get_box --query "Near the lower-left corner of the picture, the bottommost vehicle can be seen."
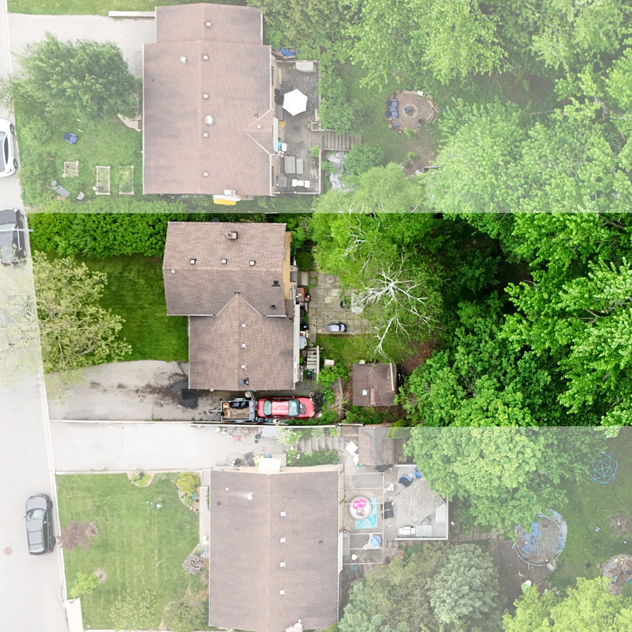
[22,494,60,558]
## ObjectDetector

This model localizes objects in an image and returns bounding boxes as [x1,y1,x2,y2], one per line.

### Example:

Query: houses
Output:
[162,221,302,393]
[209,459,351,632]
[136,0,282,201]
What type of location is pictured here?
residential area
